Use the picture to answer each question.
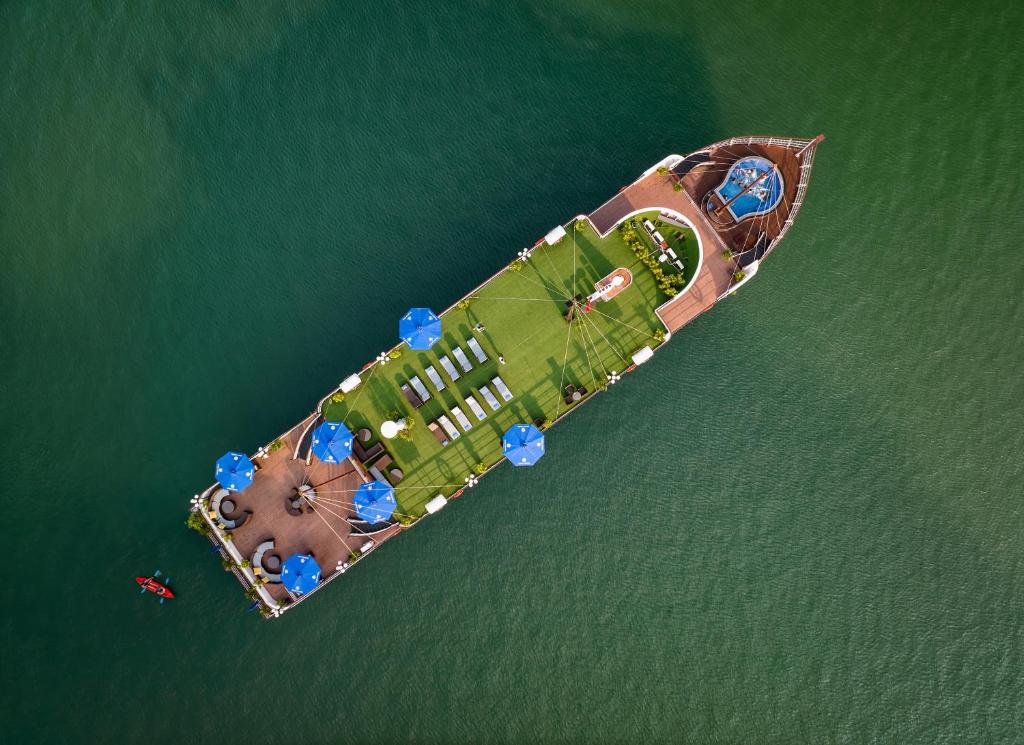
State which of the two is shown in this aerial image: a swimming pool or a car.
swimming pool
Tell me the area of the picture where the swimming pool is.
top right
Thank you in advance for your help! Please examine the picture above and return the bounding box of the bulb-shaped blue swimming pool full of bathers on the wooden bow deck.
[711,157,783,224]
